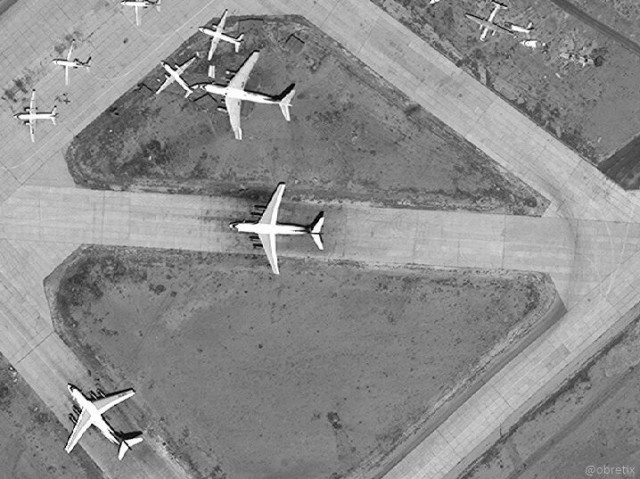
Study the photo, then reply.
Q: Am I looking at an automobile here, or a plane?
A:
plane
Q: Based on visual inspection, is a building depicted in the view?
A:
No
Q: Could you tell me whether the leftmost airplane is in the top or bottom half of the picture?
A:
top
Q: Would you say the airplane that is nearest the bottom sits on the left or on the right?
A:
left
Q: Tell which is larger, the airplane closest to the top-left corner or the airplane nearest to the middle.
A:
the airplane nearest to the middle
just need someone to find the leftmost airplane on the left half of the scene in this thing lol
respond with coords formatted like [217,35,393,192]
[15,90,58,142]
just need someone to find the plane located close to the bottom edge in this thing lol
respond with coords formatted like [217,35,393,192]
[68,384,143,463]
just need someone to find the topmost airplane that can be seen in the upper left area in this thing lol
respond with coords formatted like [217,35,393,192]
[121,0,159,26]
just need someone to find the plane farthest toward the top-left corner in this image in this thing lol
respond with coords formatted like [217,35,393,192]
[53,42,90,86]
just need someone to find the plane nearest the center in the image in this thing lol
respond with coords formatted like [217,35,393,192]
[230,184,324,276]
